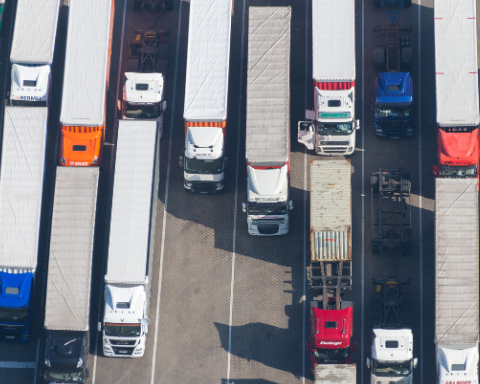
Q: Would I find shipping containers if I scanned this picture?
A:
Yes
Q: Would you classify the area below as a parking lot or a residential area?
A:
parking lot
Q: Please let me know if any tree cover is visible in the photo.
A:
No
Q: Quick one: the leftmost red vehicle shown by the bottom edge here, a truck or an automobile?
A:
truck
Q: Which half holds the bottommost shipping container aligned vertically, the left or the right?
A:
right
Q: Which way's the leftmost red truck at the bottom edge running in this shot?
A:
vertically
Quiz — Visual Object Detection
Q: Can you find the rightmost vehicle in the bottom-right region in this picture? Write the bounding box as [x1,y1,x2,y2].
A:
[433,177,480,384]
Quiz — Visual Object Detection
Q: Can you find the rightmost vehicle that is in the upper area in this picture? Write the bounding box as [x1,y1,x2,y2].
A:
[434,0,480,193]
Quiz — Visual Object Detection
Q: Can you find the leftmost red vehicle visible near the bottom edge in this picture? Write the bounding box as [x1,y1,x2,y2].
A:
[305,263,359,372]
